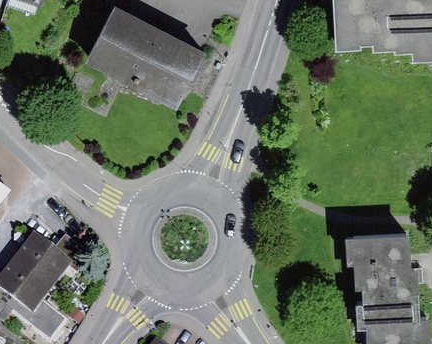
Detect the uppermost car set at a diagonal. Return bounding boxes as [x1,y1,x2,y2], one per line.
[46,196,68,219]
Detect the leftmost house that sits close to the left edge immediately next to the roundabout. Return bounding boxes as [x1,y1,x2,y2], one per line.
[0,230,77,340]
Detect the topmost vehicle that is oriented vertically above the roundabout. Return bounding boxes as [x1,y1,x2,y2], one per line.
[232,139,244,164]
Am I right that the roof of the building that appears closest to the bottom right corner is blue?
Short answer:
No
